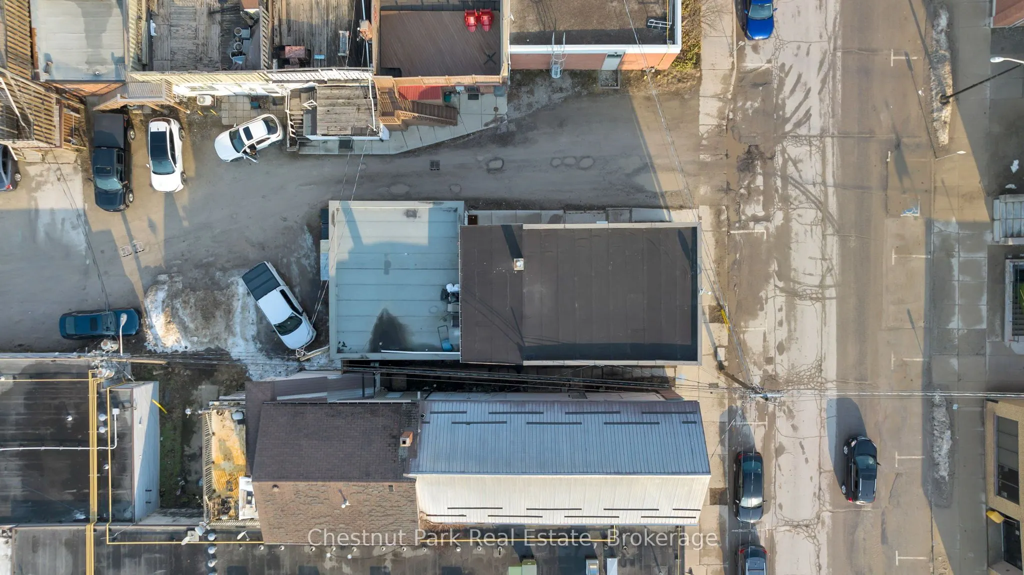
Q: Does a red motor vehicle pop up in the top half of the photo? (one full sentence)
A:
No, I can find no red motor vehicle in the top half of the photo.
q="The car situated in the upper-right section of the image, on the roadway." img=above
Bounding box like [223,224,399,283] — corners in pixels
[740,0,778,43]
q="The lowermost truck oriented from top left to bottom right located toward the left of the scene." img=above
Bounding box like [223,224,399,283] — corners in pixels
[242,260,316,348]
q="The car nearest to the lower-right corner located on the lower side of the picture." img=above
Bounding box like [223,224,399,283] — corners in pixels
[839,433,883,505]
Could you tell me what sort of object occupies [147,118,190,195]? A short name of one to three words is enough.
car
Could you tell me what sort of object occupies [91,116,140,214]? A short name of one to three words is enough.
truck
